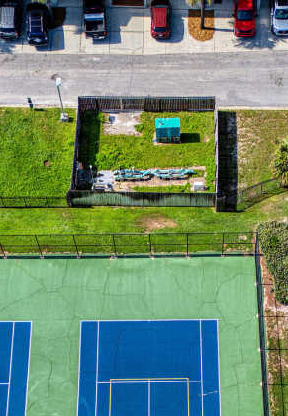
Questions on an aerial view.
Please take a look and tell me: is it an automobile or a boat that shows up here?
automobile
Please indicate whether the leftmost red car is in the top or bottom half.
top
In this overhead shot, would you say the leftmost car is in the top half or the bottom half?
top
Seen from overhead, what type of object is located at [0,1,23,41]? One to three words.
car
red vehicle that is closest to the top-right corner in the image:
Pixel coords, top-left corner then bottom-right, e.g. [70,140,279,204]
[230,0,255,37]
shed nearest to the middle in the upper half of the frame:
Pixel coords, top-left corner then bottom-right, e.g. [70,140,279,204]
[156,117,179,141]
